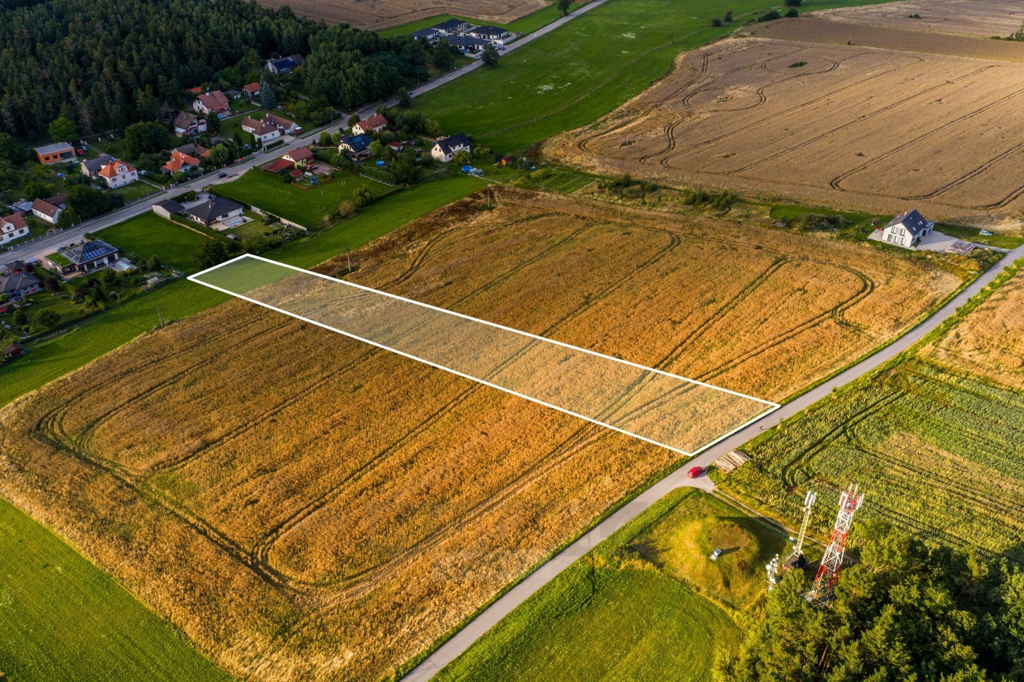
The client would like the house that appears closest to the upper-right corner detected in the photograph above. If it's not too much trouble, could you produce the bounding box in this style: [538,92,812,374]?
[883,205,954,248]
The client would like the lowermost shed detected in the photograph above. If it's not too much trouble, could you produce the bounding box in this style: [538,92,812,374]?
[779,548,815,581]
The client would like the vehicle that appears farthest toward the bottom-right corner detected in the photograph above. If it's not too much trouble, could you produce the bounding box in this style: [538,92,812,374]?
[687,464,707,479]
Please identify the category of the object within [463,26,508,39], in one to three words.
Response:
house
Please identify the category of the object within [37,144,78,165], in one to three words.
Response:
house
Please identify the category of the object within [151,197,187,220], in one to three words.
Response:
building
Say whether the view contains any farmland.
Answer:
Yes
